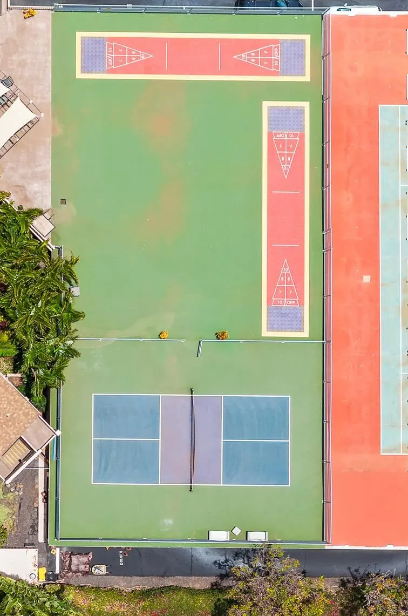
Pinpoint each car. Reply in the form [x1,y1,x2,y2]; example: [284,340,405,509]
[332,1,383,12]
[233,0,302,9]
